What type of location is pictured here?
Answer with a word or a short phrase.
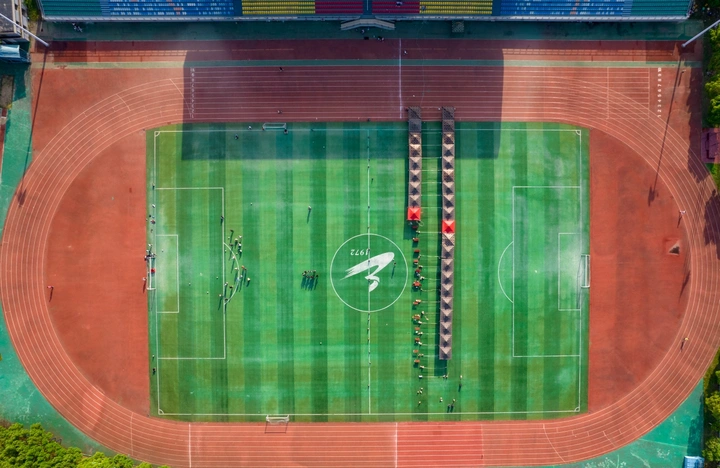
sports ground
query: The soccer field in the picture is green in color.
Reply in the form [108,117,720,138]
[144,120,591,420]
